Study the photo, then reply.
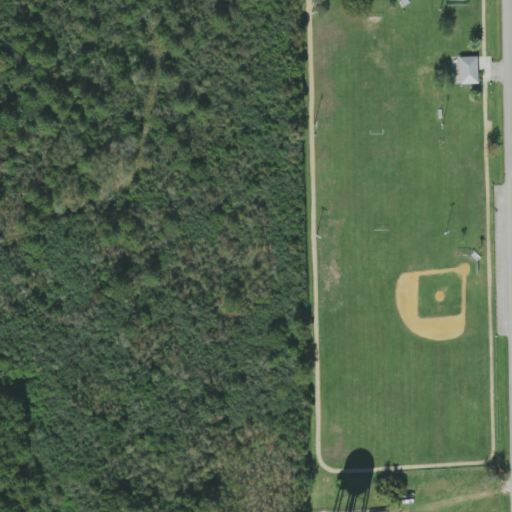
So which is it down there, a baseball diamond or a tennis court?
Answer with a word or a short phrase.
baseball diamond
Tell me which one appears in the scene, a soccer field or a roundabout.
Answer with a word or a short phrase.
soccer field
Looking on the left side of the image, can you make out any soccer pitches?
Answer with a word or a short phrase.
No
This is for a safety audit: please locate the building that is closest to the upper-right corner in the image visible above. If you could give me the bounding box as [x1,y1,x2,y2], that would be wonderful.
[452,56,479,84]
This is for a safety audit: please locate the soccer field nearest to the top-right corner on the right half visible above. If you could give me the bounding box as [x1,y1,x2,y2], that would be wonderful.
[345,128,434,233]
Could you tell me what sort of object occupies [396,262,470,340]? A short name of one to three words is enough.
baseball field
